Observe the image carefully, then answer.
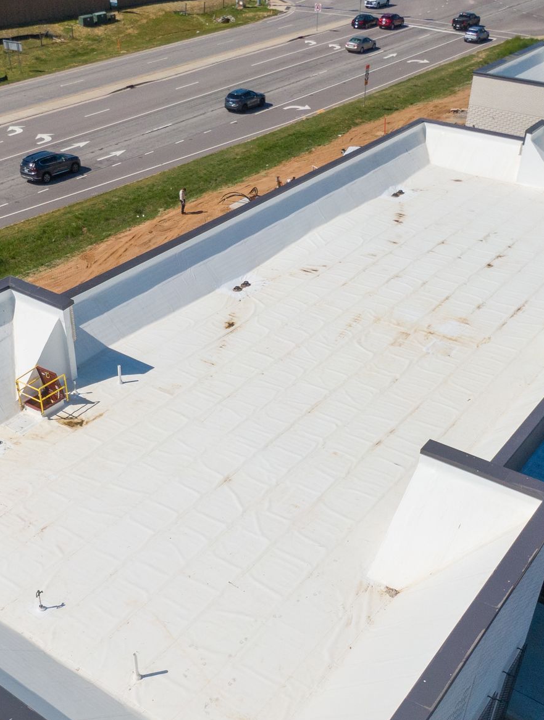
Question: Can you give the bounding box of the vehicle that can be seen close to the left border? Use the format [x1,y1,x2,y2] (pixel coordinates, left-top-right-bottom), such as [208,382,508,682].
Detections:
[19,149,83,181]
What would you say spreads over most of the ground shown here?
buildings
